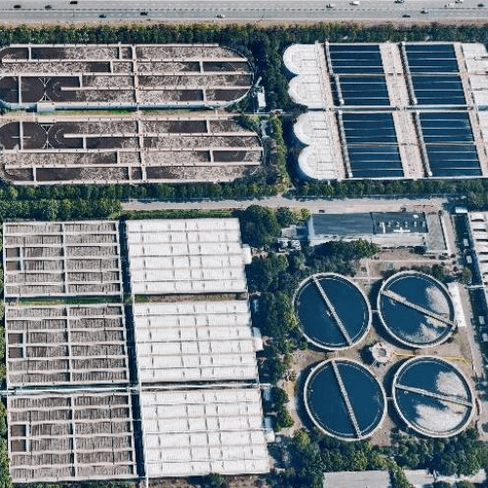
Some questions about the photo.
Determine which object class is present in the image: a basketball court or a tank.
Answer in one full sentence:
I can see a tank in this picture.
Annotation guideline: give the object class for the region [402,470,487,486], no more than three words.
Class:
shed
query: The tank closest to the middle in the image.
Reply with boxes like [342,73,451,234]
[291,272,373,352]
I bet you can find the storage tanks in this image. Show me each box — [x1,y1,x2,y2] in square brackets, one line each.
[374,271,456,350]
[390,355,476,440]
[291,272,373,352]
[302,359,386,443]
